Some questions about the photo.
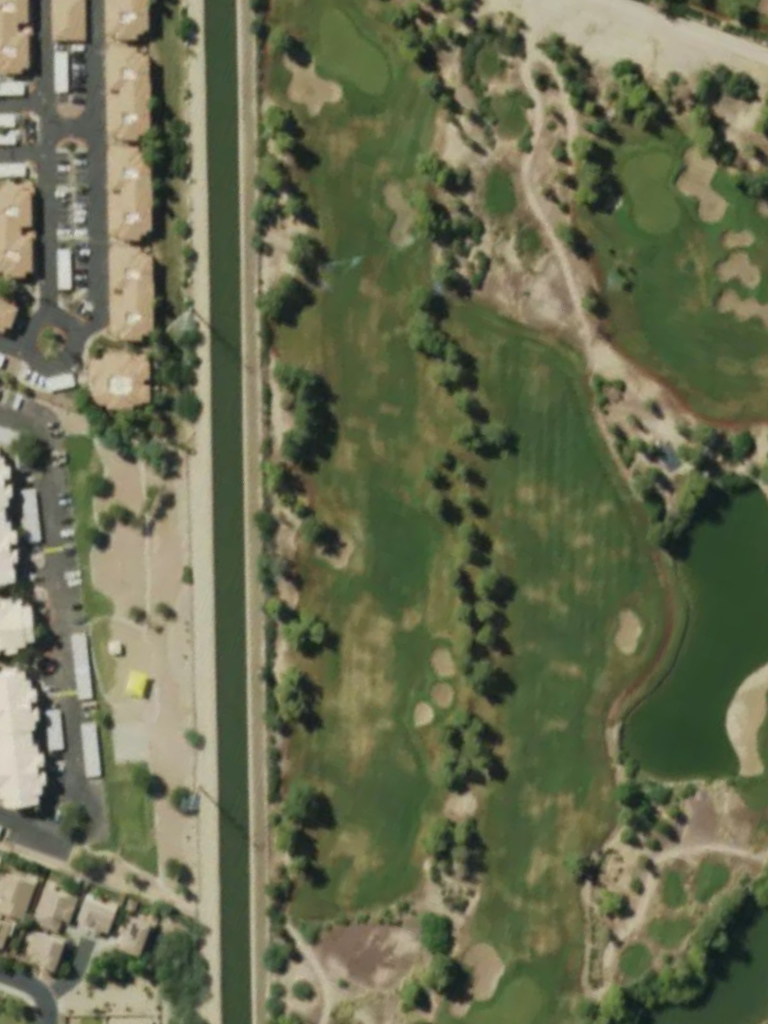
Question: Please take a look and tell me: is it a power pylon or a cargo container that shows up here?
power pylon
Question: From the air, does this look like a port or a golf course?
golf course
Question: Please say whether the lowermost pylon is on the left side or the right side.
left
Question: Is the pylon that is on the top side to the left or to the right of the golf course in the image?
to the left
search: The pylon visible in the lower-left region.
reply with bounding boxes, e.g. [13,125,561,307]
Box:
[162,785,201,809]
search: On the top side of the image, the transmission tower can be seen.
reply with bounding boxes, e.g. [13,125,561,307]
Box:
[153,308,192,329]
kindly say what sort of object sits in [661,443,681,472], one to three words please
building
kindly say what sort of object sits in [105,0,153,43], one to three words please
building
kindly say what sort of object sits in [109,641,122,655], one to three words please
gazebo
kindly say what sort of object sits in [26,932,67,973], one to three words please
house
